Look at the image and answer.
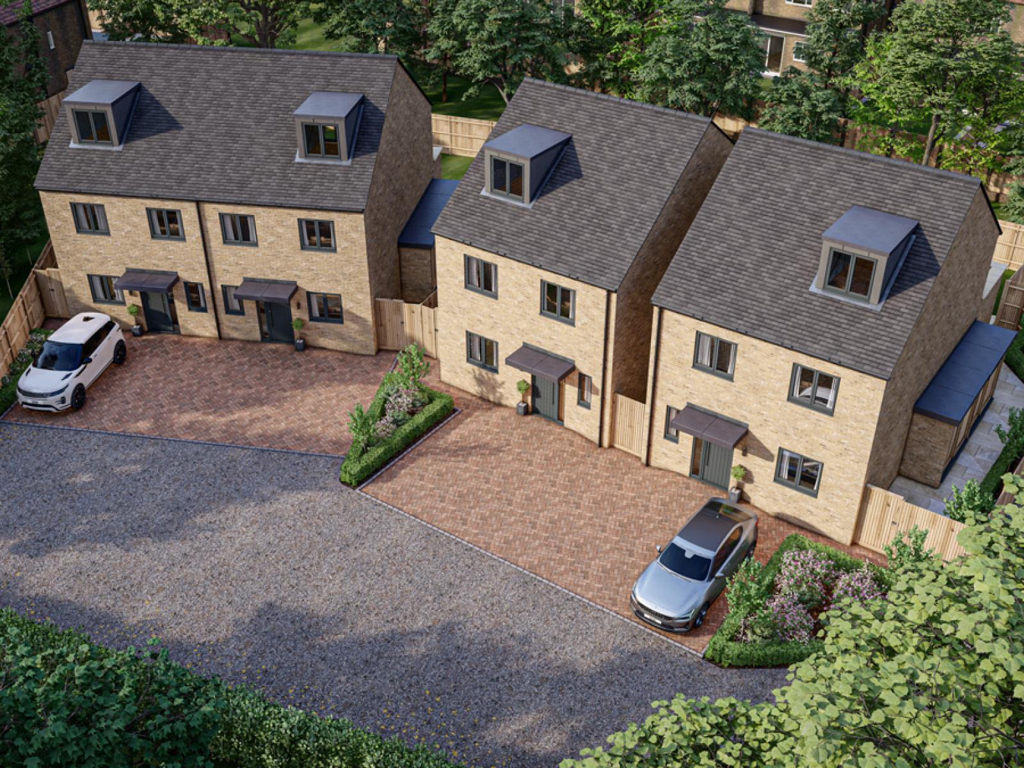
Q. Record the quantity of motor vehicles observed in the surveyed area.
2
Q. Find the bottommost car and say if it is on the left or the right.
right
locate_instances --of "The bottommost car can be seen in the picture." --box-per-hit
[632,494,766,637]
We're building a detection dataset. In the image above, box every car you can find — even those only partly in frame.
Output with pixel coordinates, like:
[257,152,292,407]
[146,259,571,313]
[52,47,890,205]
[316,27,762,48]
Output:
[6,310,130,413]
[632,494,766,637]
